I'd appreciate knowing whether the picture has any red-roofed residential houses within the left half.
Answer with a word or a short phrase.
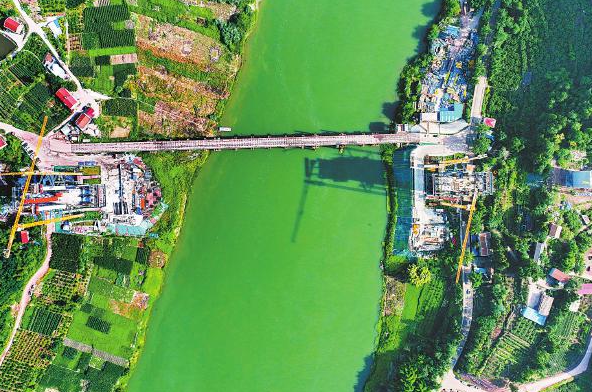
Yes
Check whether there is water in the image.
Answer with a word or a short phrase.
Yes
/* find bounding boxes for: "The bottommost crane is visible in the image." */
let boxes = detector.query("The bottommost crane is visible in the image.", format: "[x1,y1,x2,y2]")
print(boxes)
[428,189,480,286]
